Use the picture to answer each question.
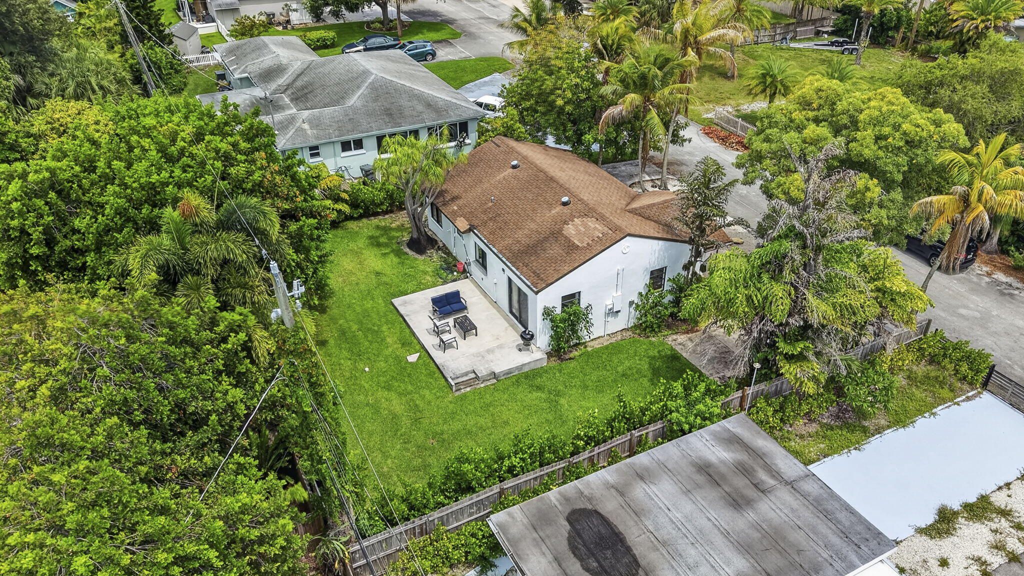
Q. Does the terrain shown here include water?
No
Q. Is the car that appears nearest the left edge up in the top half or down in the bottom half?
top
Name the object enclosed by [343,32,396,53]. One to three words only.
car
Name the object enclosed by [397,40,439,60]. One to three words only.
car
